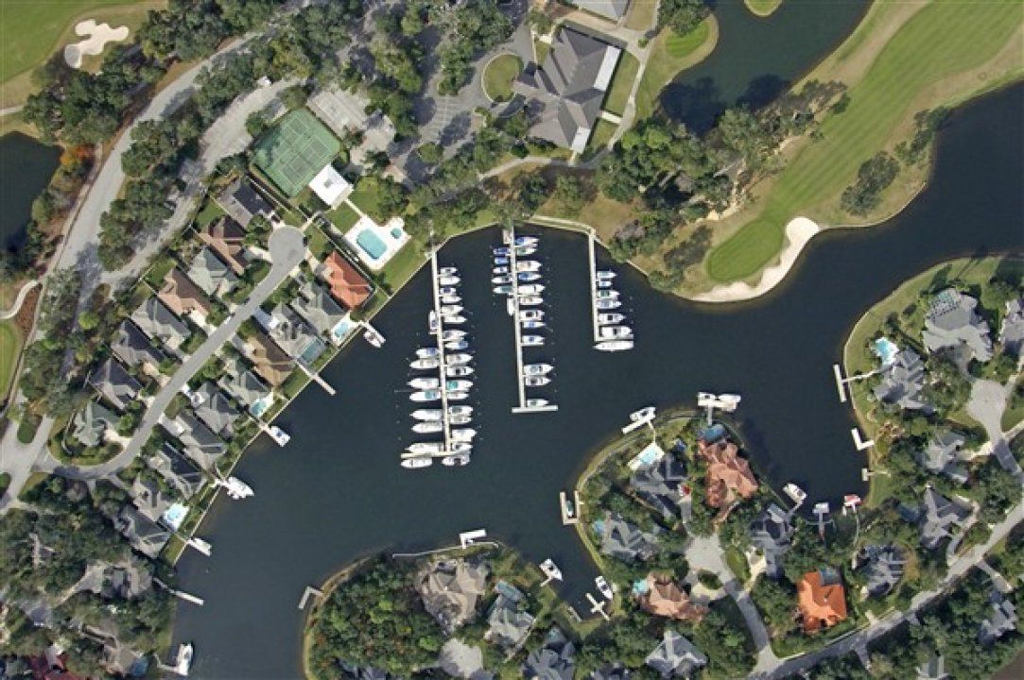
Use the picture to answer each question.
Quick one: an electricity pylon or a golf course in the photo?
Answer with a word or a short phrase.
golf course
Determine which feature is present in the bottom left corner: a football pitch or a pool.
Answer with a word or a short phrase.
pool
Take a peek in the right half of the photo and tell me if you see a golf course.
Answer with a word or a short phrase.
Yes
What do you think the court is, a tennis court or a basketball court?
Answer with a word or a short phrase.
tennis court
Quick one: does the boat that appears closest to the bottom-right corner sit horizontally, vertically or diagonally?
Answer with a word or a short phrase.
diagonally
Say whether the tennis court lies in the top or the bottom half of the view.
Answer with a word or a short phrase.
top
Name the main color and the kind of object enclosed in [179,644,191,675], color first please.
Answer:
white boat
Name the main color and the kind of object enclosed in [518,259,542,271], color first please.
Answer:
white boat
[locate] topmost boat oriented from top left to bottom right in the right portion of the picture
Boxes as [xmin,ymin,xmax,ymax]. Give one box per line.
[783,481,806,501]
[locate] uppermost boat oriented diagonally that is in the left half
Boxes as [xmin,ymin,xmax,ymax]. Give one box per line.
[365,332,382,348]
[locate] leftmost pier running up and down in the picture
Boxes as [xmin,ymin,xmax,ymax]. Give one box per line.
[401,248,473,465]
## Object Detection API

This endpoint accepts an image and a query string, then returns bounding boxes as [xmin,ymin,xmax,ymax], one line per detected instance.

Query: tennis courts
[253,107,341,198]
